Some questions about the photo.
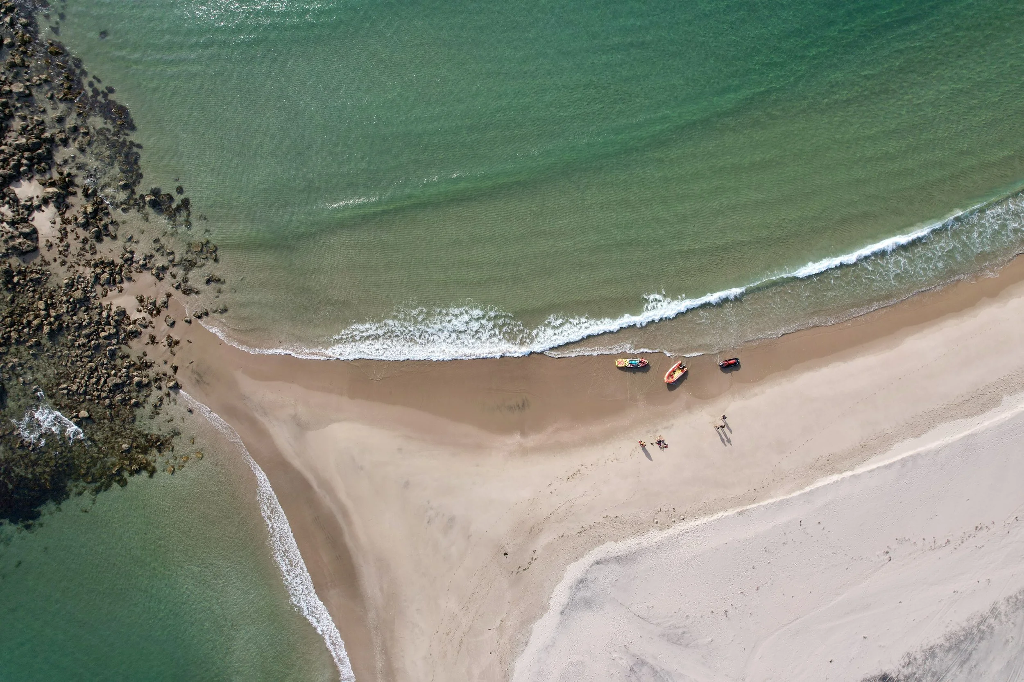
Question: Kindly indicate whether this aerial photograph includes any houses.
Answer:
No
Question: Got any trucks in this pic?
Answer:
No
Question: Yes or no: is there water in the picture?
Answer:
Yes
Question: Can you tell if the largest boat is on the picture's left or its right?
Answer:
right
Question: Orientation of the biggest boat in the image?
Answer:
at an angle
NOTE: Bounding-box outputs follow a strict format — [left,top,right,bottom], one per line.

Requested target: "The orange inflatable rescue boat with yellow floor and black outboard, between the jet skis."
[666,359,690,381]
